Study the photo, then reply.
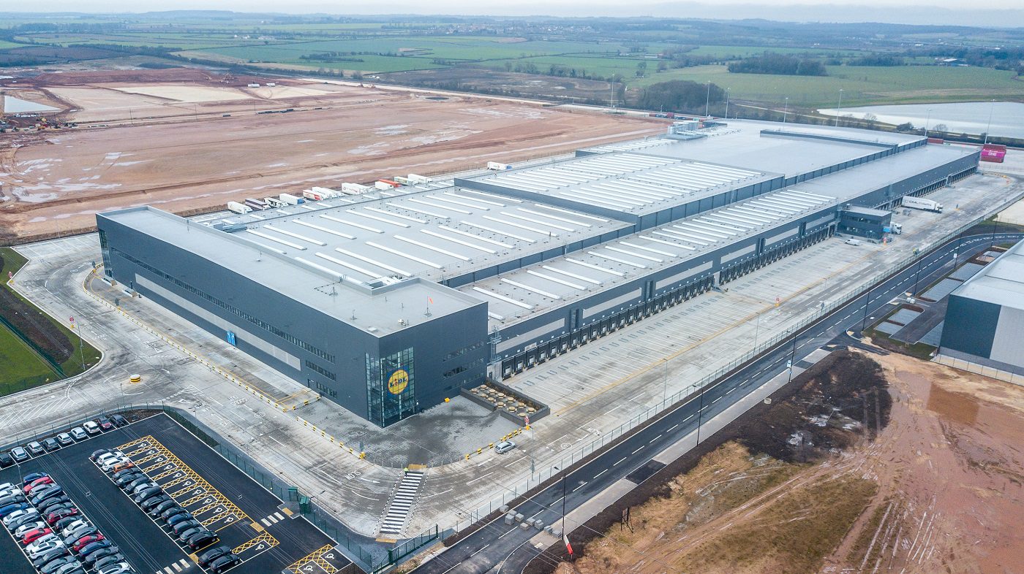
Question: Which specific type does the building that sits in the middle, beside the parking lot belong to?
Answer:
warehouse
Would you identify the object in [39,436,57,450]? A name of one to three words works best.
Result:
car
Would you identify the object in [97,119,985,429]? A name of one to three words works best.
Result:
warehouse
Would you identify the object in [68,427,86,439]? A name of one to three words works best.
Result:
vehicle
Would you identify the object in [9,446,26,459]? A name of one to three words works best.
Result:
vehicle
